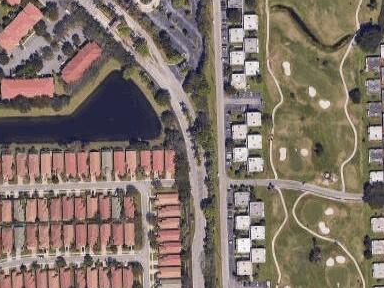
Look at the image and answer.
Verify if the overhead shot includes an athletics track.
No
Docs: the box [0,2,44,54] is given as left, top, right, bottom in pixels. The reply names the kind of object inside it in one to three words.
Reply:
building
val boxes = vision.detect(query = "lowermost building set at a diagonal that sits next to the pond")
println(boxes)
[59,40,103,83]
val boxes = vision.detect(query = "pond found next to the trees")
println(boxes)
[0,71,160,144]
